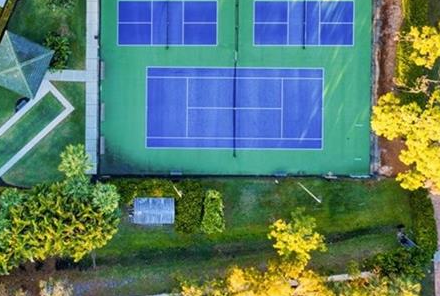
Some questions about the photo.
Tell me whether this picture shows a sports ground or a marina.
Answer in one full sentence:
It's a sports ground.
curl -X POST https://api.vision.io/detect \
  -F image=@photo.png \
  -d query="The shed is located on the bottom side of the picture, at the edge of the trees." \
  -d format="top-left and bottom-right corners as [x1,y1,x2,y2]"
[134,198,175,225]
